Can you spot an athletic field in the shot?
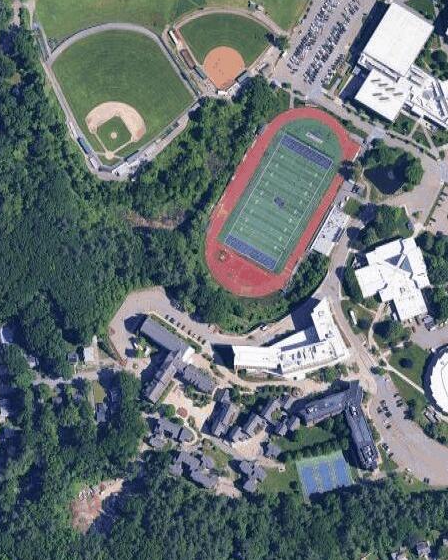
Yes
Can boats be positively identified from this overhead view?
No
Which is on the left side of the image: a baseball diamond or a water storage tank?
baseball diamond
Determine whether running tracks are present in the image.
Yes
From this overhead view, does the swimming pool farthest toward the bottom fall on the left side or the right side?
left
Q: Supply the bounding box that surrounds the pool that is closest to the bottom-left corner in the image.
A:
[0,324,22,344]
